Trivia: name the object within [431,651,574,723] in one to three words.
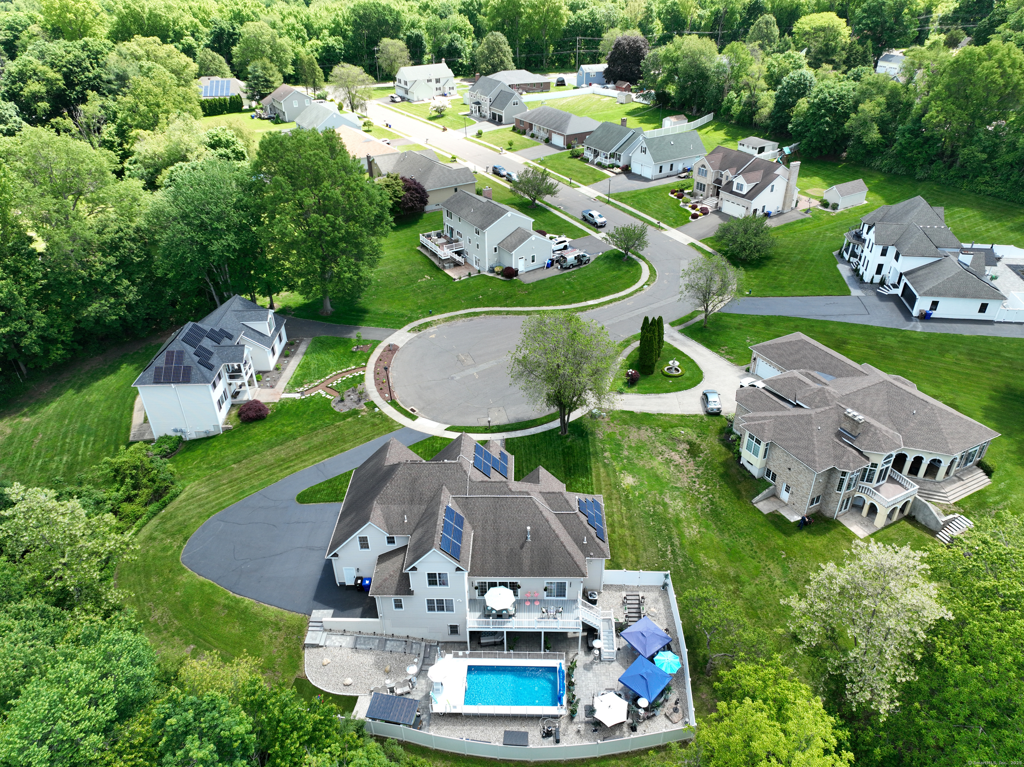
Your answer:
swimming pool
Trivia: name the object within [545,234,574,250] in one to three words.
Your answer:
car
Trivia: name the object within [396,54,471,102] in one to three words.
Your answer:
house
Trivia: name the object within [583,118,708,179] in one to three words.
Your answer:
building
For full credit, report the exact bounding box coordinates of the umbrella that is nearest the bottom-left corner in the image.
[426,664,455,690]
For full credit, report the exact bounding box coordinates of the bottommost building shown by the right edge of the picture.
[725,332,1002,544]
